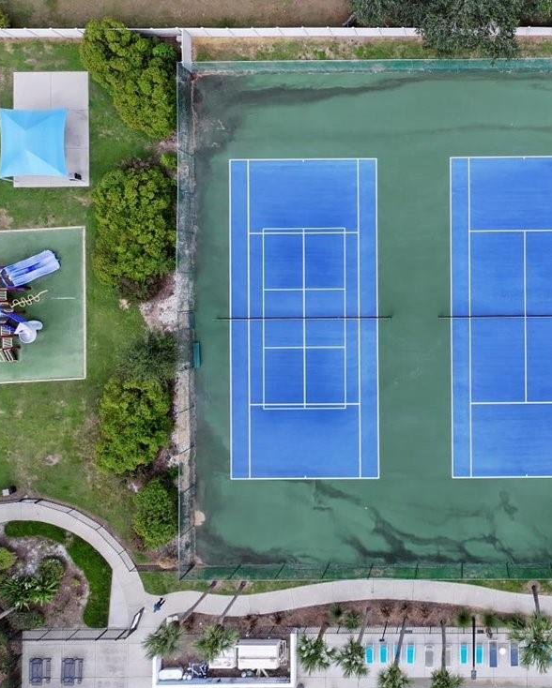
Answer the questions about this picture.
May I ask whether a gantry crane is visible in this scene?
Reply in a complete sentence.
No, there's no gantry crane here.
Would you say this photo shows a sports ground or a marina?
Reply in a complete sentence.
What you see here is a sports ground.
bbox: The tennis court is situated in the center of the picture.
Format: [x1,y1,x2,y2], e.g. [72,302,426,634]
[194,73,418,566]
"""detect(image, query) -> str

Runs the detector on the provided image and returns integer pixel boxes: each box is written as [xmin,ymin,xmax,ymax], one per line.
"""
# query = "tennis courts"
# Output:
[415,73,552,565]
[194,73,418,566]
